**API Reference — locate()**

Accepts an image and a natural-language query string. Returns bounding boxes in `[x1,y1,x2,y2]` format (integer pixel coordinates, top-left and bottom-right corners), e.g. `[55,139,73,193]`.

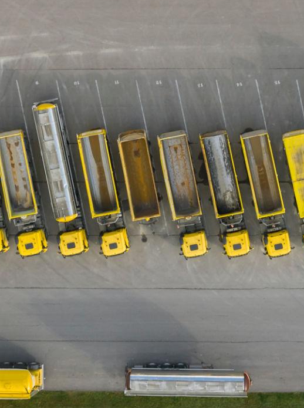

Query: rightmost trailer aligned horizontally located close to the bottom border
[124,359,254,395]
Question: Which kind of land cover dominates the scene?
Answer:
paved ground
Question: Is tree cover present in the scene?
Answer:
No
